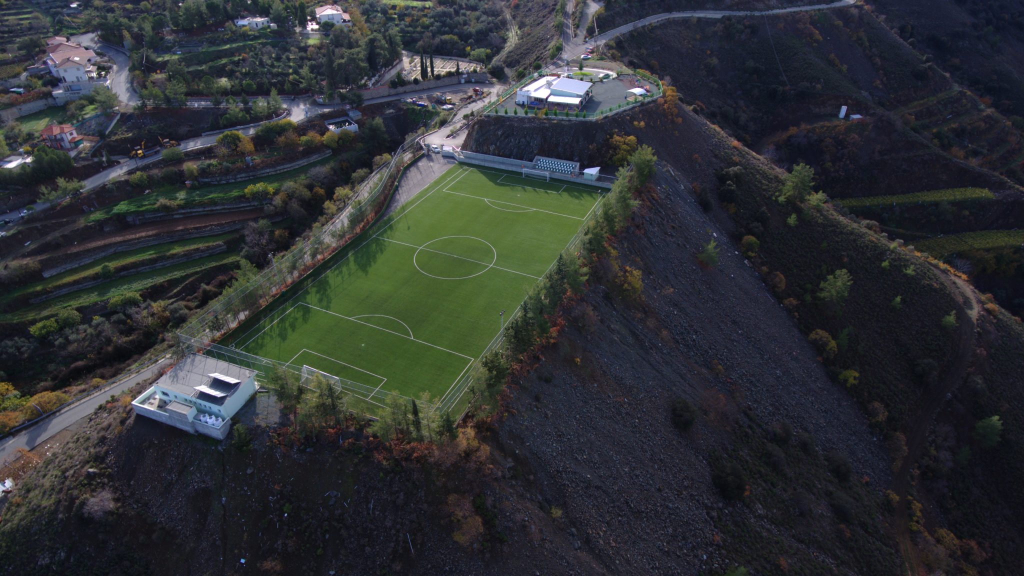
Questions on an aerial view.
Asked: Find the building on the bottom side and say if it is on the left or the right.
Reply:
left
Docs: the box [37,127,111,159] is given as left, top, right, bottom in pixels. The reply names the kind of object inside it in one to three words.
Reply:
house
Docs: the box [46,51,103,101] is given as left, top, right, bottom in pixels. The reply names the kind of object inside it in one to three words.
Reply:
house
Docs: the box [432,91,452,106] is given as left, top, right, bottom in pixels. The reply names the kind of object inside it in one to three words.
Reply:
vehicle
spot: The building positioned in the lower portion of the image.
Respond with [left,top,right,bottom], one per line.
[154,352,268,420]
